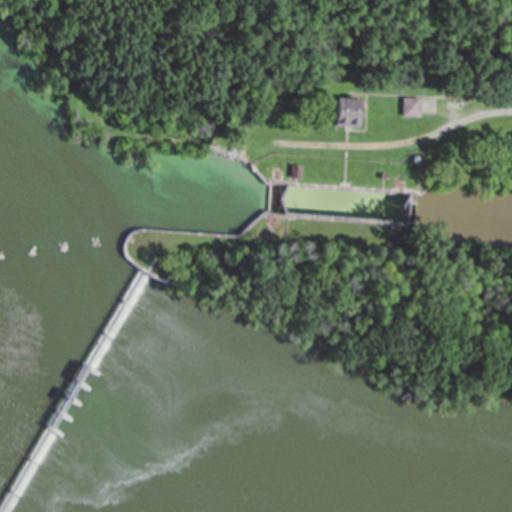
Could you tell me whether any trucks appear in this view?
No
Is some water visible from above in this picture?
Yes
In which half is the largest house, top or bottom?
top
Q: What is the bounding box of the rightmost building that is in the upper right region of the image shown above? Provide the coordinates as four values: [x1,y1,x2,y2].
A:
[404,96,422,117]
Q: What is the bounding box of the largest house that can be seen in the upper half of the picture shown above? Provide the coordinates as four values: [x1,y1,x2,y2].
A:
[340,97,366,130]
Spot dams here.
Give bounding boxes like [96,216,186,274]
[0,266,153,512]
